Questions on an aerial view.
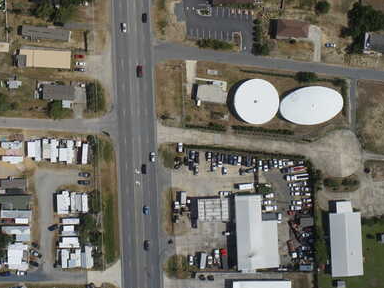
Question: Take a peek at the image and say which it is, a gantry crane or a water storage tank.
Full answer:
It is a water storage tank that can be seen here.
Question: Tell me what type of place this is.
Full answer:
This looks like a residential area.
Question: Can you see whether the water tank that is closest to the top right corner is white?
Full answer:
Yes, the water tank that is closest to the top right corner is white.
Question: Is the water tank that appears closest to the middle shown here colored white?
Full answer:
Yes, white is the color of the water tank that appears closest to the middle.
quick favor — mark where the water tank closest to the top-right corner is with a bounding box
[277,86,343,124]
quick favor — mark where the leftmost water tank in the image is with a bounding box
[233,79,278,124]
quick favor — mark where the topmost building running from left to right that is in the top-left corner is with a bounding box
[21,25,70,44]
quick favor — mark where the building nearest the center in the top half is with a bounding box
[196,84,229,104]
